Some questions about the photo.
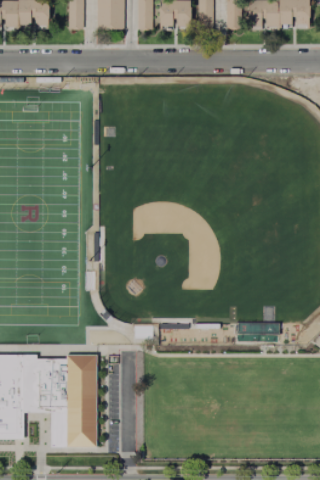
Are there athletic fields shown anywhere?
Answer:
Yes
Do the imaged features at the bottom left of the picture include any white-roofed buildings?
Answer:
Yes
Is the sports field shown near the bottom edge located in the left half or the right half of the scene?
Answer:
right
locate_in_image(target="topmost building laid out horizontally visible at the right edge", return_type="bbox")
[242,0,310,30]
